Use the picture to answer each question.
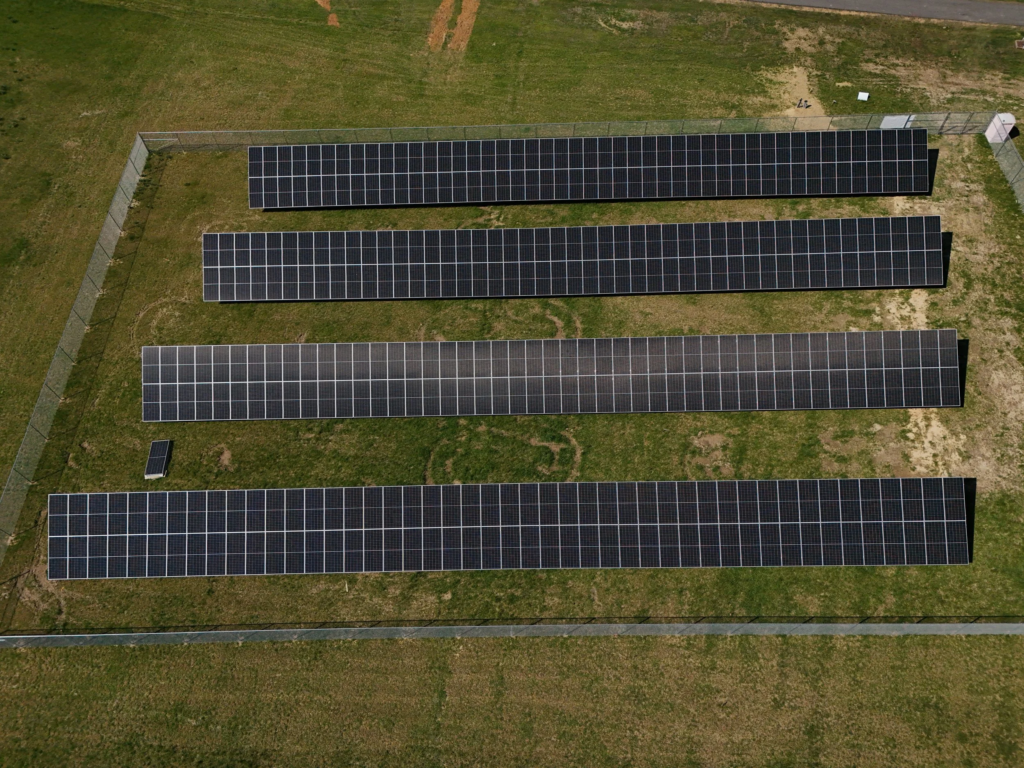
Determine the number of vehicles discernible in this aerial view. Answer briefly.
zero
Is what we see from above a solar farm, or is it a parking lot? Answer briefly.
solar farm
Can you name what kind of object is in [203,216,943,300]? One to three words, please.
solar array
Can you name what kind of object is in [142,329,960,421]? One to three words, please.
solar array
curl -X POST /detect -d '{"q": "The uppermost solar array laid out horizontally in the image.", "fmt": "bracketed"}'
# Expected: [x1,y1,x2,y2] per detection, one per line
[248,129,929,208]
